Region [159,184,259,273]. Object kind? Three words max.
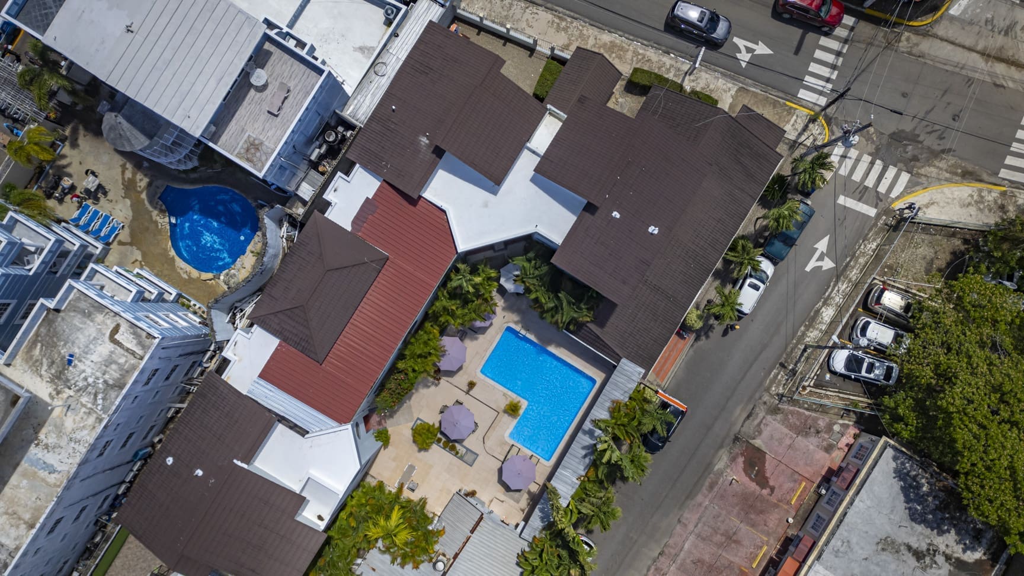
swimming pool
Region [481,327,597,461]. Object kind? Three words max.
swimming pool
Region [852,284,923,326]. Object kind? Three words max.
car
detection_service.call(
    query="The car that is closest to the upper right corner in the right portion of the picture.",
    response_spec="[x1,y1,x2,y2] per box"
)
[769,0,842,33]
